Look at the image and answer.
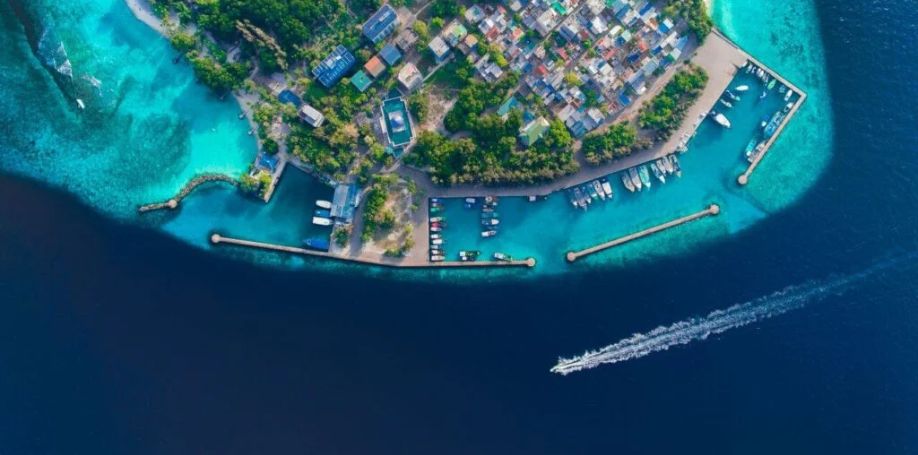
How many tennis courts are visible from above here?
0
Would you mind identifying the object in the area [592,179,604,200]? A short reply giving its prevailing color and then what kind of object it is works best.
white boat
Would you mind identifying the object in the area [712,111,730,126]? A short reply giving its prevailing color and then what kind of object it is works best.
white boat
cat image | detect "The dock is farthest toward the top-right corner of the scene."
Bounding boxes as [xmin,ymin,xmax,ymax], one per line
[732,42,806,188]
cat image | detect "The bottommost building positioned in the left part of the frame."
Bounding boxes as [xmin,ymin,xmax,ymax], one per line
[330,183,364,225]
